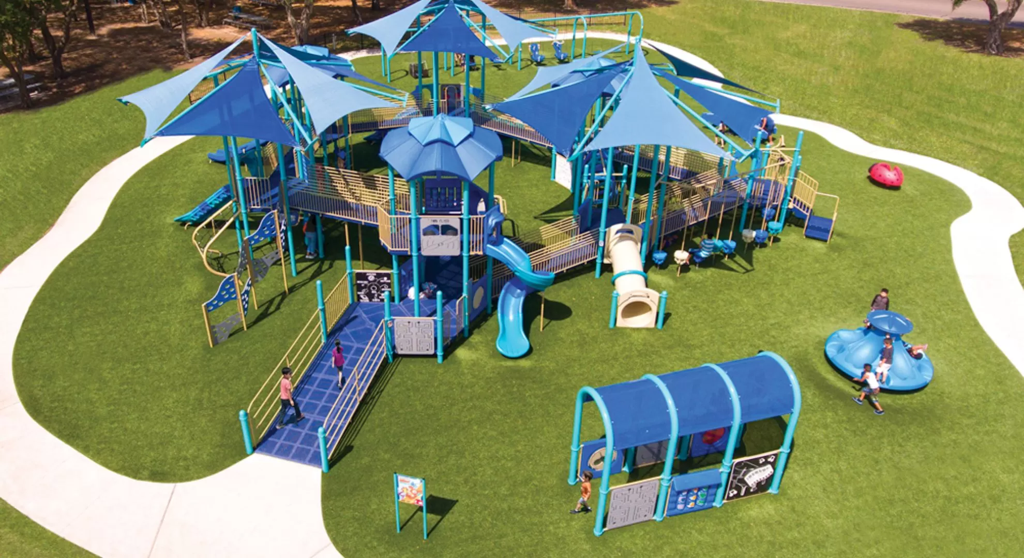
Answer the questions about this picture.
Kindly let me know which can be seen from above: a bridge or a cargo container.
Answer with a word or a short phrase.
bridge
